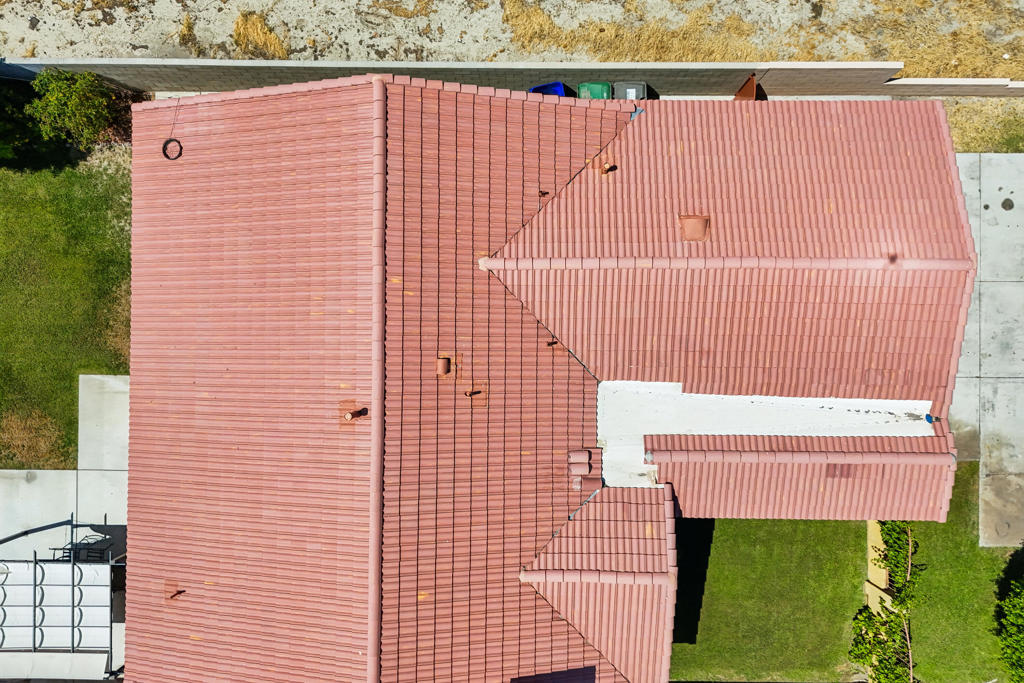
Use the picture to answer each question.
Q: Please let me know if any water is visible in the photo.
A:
No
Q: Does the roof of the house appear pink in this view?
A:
Yes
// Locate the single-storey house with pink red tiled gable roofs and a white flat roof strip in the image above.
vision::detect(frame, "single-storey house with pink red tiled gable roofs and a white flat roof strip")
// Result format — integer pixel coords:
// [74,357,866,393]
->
[124,70,979,683]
